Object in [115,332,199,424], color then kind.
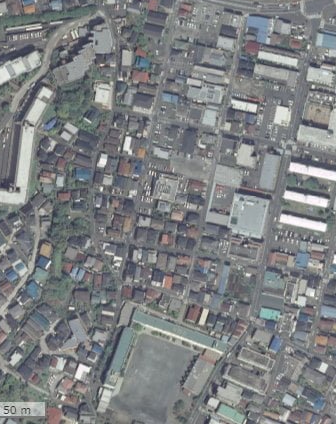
gray sports field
